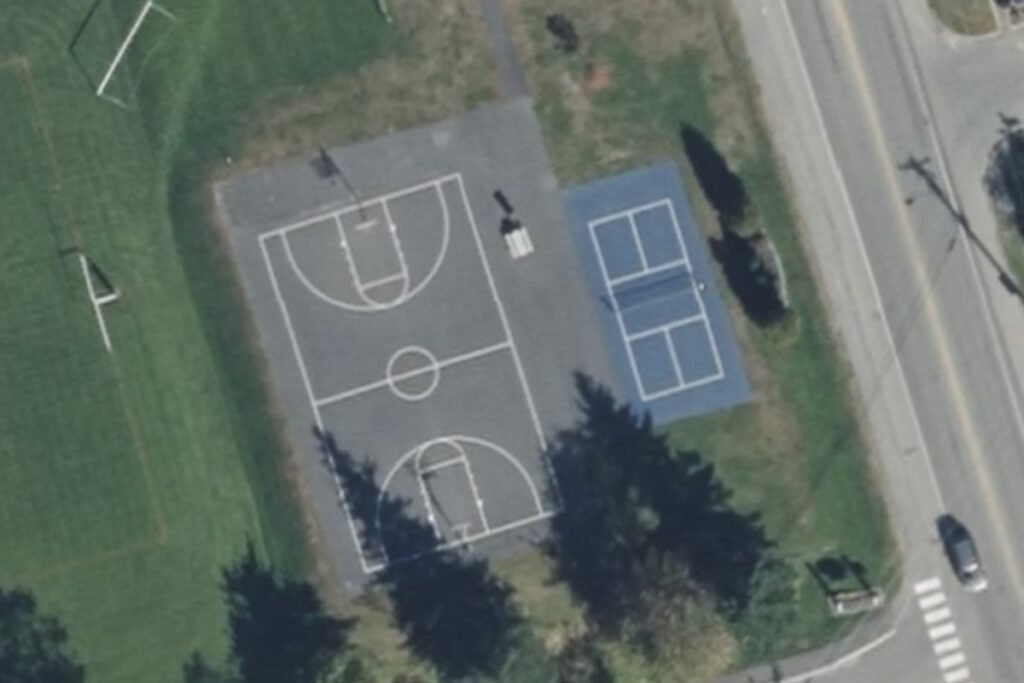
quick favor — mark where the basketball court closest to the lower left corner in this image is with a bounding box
[215,98,646,598]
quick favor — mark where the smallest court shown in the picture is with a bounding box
[567,163,752,424]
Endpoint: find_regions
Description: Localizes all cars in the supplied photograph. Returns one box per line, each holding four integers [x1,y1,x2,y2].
[947,529,986,593]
